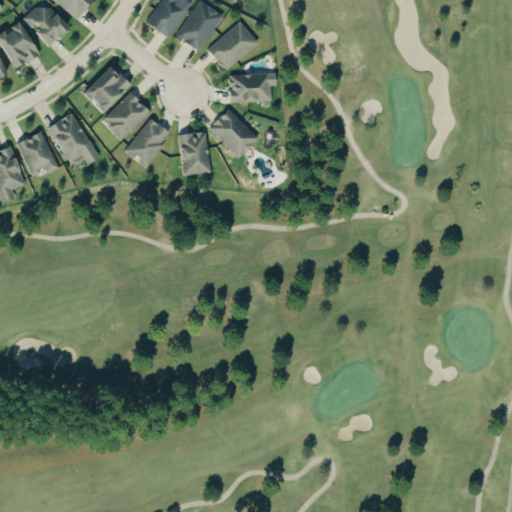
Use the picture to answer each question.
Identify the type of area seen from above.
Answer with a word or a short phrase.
golf course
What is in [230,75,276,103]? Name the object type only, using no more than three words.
house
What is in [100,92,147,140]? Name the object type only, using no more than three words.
house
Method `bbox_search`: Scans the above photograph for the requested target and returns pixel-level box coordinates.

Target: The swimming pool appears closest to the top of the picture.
[244,54,276,73]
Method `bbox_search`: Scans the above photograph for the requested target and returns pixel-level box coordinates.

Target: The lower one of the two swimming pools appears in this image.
[247,149,286,188]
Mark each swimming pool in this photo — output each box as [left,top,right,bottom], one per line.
[244,54,276,73]
[247,149,286,188]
